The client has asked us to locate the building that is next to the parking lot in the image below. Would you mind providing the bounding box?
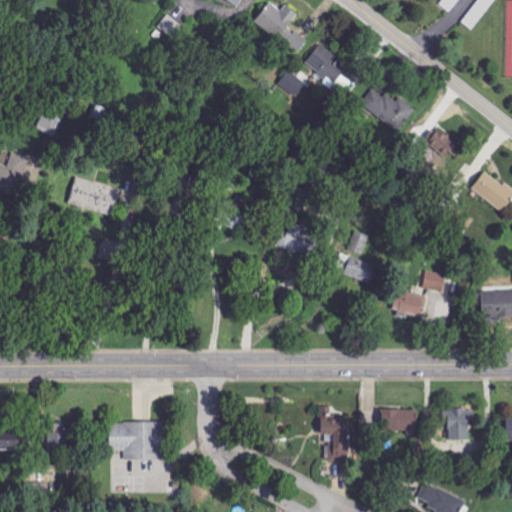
[109,422,164,460]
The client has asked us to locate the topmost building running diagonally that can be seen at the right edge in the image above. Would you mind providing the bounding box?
[462,0,490,28]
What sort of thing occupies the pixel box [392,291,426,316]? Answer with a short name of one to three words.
house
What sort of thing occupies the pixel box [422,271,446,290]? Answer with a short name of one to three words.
building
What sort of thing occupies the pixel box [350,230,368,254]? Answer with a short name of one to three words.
building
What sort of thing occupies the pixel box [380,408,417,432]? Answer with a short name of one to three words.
house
